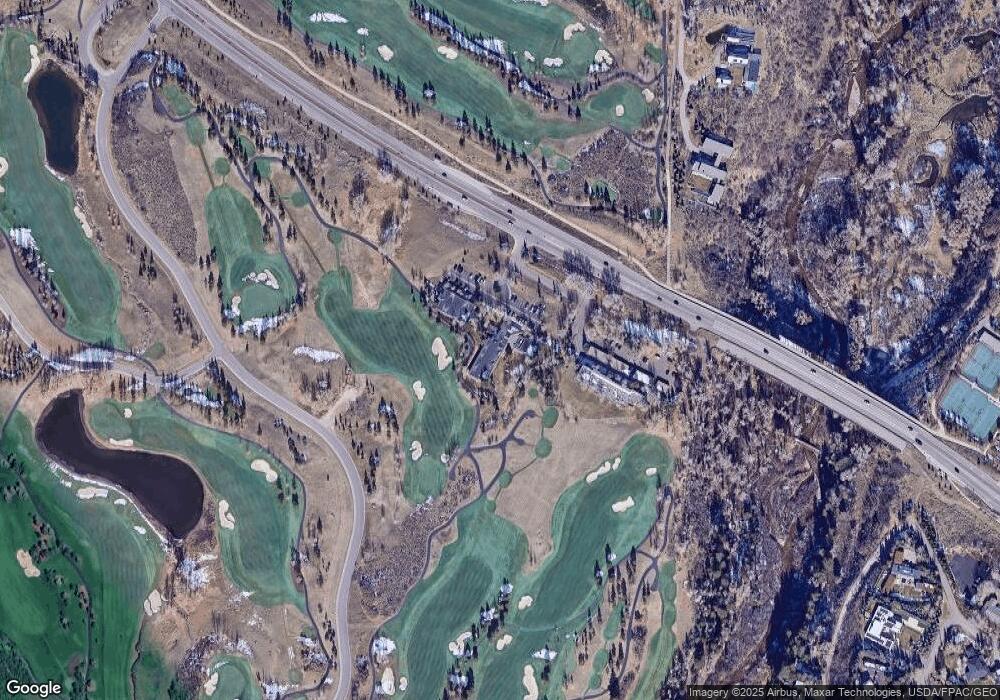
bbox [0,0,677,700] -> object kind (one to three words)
golf course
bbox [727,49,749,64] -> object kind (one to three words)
house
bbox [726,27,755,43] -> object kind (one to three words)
house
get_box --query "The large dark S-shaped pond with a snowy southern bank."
[36,390,203,537]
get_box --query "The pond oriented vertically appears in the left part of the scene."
[27,61,82,174]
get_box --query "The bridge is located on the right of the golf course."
[680,293,918,451]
